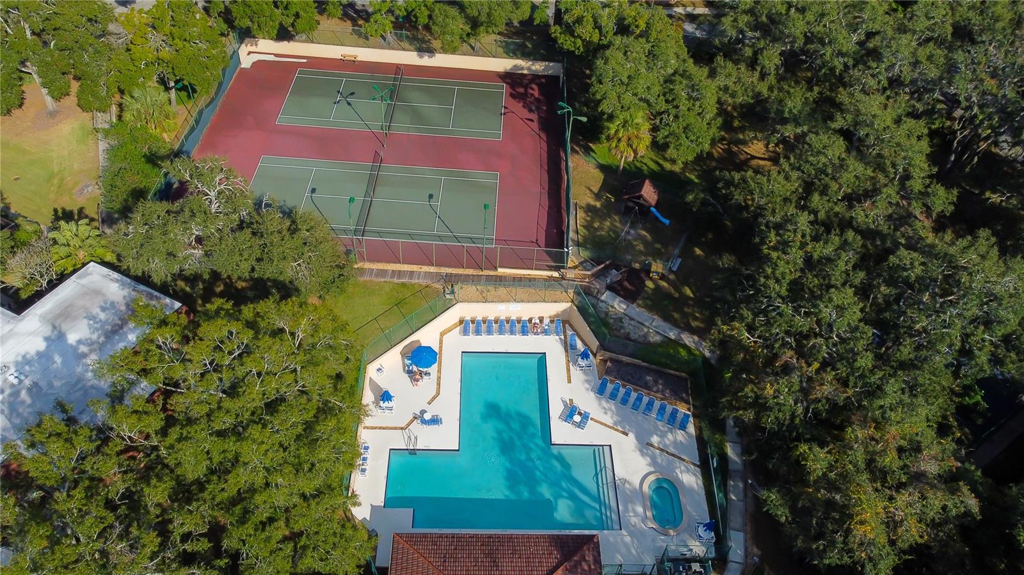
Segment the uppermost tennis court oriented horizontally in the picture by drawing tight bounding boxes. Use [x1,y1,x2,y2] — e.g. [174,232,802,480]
[276,69,505,139]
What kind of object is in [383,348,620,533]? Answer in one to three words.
swimming pool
